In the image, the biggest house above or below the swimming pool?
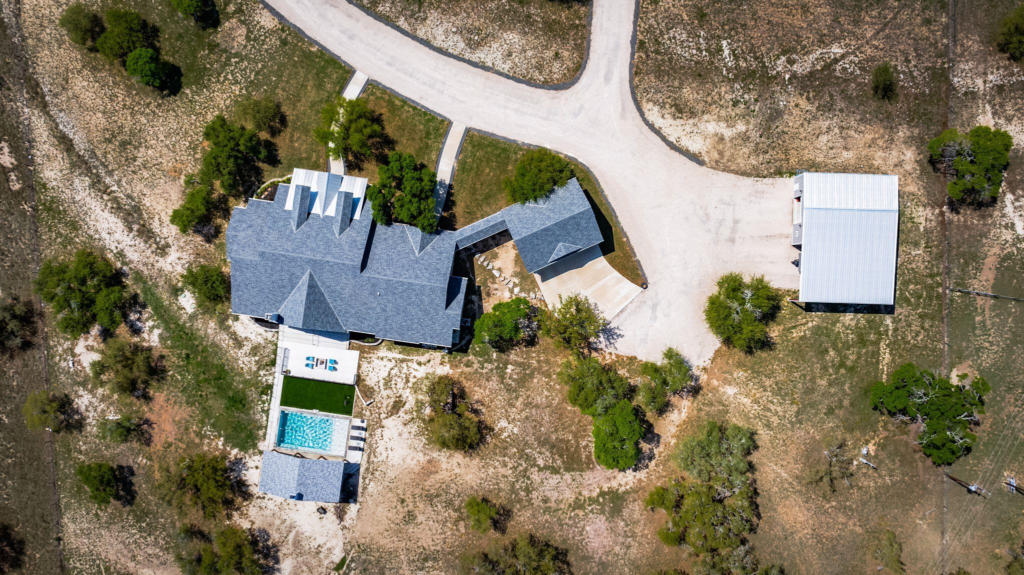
above it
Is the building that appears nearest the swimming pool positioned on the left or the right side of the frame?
left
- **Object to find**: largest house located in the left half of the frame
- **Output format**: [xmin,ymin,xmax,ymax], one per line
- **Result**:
[226,168,468,348]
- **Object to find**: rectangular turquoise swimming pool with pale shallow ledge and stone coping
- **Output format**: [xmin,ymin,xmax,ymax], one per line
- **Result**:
[273,406,352,458]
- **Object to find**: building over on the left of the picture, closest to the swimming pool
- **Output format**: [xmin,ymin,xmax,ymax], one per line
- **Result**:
[258,449,346,503]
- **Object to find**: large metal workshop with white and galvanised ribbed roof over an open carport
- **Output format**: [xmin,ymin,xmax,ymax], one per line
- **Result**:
[787,172,899,305]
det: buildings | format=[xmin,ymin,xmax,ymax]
[501,179,604,274]
[258,449,346,503]
[787,172,899,305]
[226,168,468,348]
